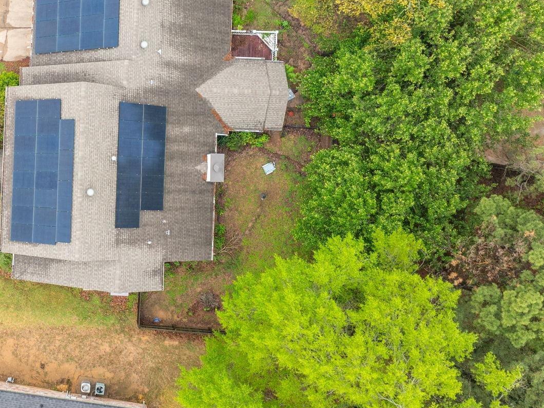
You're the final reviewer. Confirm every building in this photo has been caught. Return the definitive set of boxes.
[0,377,155,408]
[0,0,287,295]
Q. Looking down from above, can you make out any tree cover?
Yes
